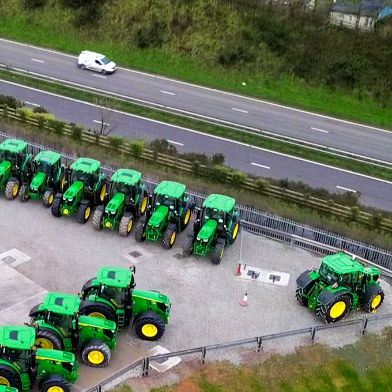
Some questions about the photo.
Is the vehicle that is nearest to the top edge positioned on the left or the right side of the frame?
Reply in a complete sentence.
The vehicle that is nearest to the top edge is on the left side of the image.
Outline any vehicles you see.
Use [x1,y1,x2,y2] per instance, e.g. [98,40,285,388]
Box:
[78,273,167,340]
[77,46,116,71]
[136,182,190,251]
[0,329,80,392]
[27,300,121,369]
[183,196,240,267]
[50,160,105,225]
[92,172,148,239]
[294,256,382,323]
[18,146,68,208]
[0,141,33,202]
